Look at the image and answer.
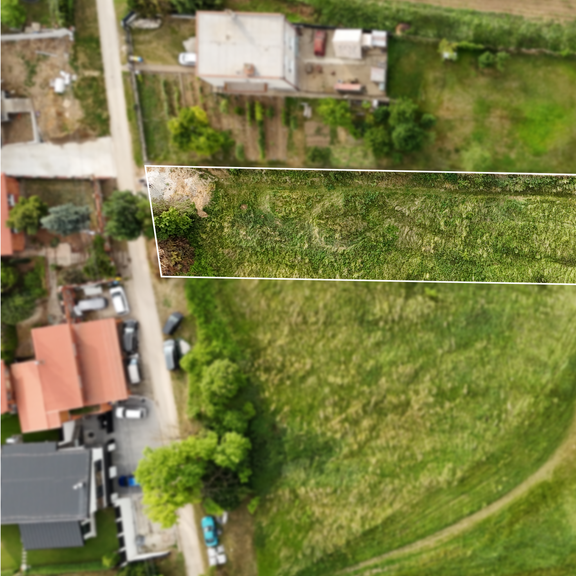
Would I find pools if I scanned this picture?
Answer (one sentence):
No, this view has no pool in it.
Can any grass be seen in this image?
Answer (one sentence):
Yes, the picture does contain grass.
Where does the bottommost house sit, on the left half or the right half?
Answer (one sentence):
You can find the bottommost house on the left side of the picture.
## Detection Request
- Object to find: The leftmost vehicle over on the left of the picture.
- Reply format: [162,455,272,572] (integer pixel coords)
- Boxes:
[78,298,109,312]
